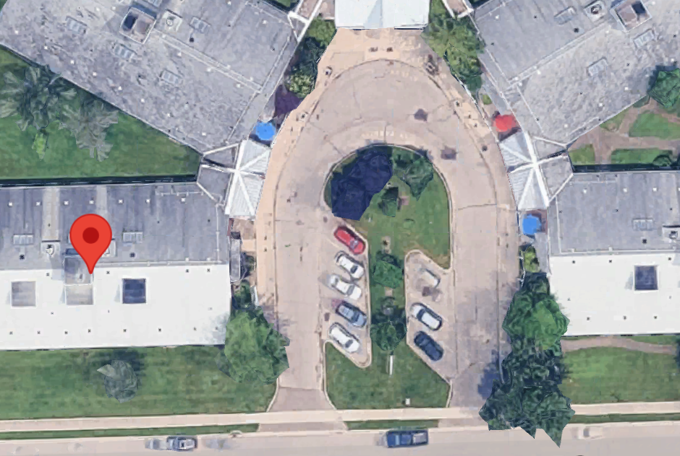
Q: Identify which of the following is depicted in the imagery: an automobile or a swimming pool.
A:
automobile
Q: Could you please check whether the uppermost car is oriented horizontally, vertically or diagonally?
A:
diagonally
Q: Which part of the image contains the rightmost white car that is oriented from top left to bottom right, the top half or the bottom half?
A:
bottom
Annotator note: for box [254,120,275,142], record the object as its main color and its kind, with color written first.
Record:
blue umbrella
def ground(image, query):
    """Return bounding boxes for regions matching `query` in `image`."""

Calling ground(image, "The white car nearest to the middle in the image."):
[332,251,366,283]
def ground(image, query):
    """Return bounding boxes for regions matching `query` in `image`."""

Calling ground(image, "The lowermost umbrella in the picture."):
[520,213,541,235]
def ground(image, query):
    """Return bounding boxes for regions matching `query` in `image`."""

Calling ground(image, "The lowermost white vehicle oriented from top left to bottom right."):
[325,322,362,356]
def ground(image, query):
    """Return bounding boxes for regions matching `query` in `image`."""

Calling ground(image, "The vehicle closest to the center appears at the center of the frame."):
[333,223,368,256]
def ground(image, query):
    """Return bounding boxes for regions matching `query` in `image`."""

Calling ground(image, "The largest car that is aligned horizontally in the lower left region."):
[165,436,198,453]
